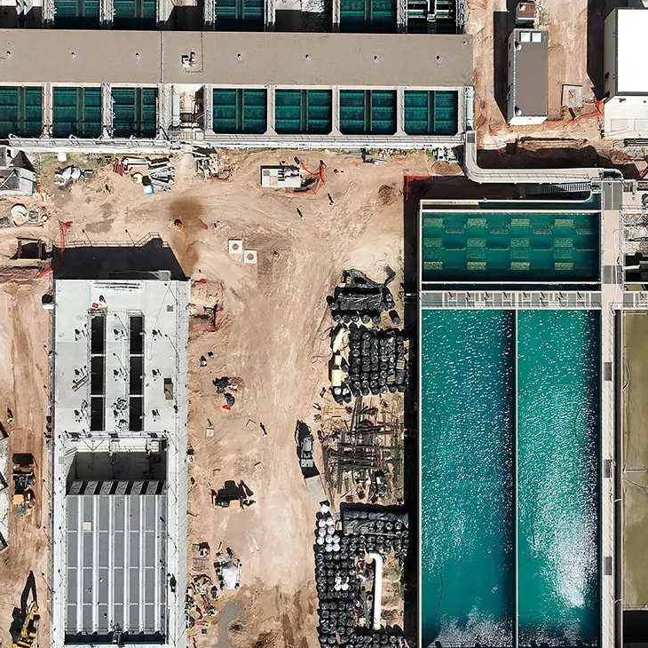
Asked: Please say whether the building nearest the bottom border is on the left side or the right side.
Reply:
left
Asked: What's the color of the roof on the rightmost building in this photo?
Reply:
white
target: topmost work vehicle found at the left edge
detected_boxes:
[9,472,33,519]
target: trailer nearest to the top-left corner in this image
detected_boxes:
[260,166,301,188]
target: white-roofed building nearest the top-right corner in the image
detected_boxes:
[604,8,648,106]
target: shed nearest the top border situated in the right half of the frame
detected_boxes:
[514,2,537,25]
